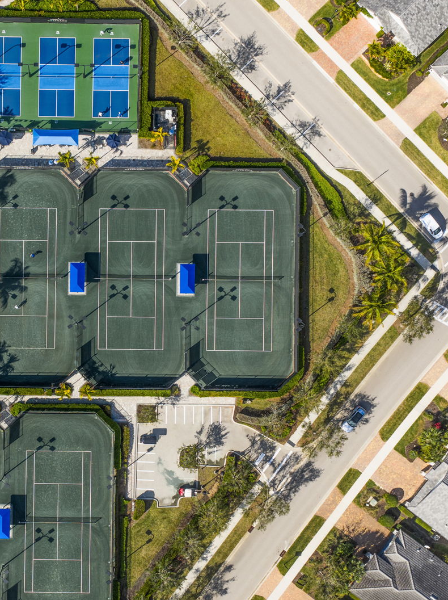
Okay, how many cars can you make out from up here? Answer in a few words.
two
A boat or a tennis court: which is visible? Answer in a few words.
tennis court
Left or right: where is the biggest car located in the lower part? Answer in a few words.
right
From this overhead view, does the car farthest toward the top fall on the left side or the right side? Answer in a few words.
right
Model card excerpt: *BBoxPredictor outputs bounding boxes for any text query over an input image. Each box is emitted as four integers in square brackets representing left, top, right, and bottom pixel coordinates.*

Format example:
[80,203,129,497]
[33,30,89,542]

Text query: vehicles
[341,405,366,432]
[142,434,158,443]
[419,210,442,241]
[180,486,196,495]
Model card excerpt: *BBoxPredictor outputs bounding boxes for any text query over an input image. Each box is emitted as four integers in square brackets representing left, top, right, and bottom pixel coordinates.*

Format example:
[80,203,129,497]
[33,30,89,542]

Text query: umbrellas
[0,131,12,147]
[105,133,120,149]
